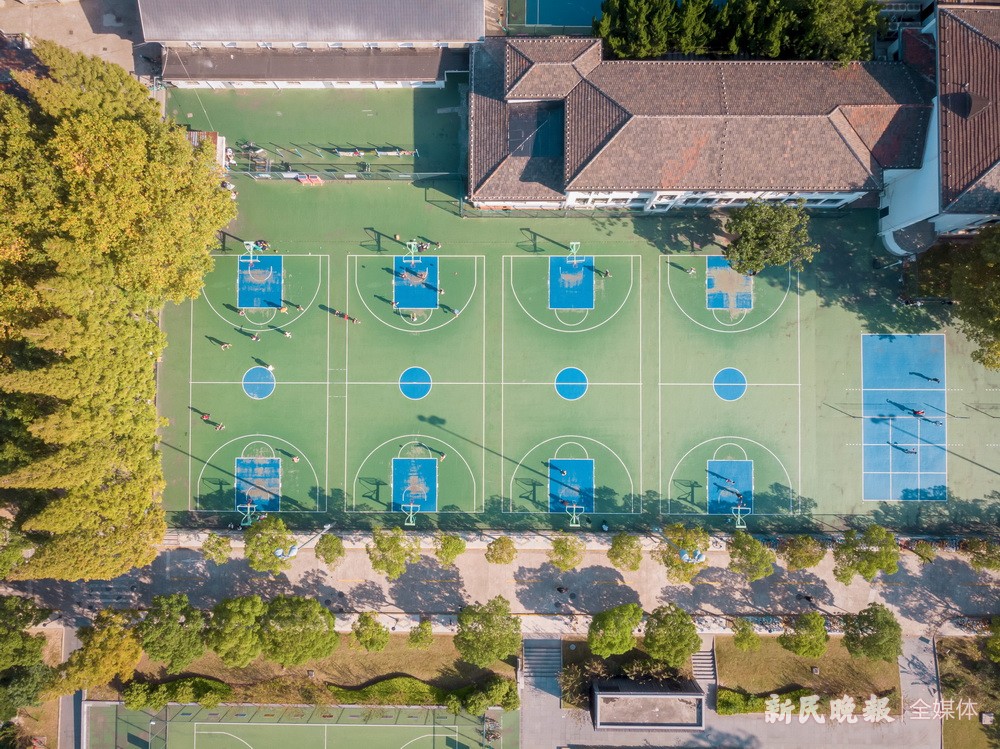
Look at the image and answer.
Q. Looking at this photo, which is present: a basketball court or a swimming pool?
basketball court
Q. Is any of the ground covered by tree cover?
Yes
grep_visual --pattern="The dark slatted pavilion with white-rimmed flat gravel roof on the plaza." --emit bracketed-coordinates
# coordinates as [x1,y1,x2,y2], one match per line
[593,680,704,729]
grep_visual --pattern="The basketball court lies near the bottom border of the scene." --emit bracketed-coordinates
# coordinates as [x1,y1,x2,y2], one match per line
[88,707,519,749]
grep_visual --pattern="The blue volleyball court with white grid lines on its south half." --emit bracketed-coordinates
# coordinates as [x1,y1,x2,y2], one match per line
[848,333,964,501]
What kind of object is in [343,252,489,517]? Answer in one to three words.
basketball court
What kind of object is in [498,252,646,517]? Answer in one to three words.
basketball court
